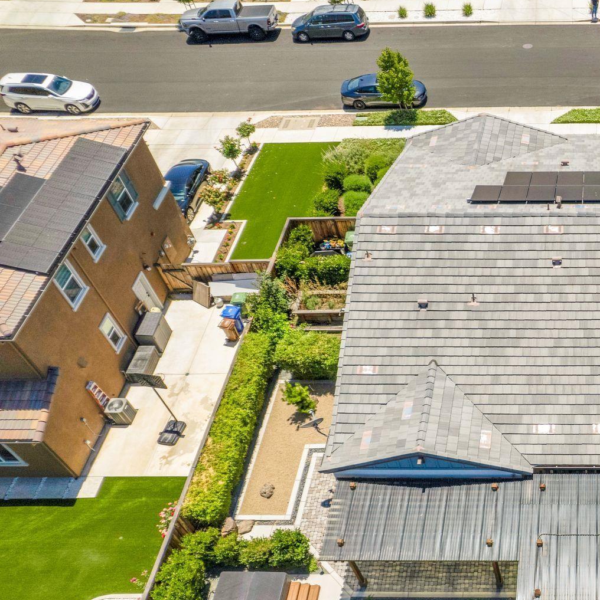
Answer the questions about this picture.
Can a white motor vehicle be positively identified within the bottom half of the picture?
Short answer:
No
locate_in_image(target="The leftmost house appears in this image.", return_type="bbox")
[0,116,193,477]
